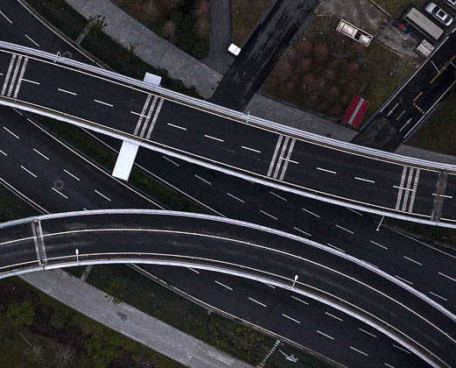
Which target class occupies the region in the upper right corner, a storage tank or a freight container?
freight container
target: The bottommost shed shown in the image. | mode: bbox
[342,96,369,126]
